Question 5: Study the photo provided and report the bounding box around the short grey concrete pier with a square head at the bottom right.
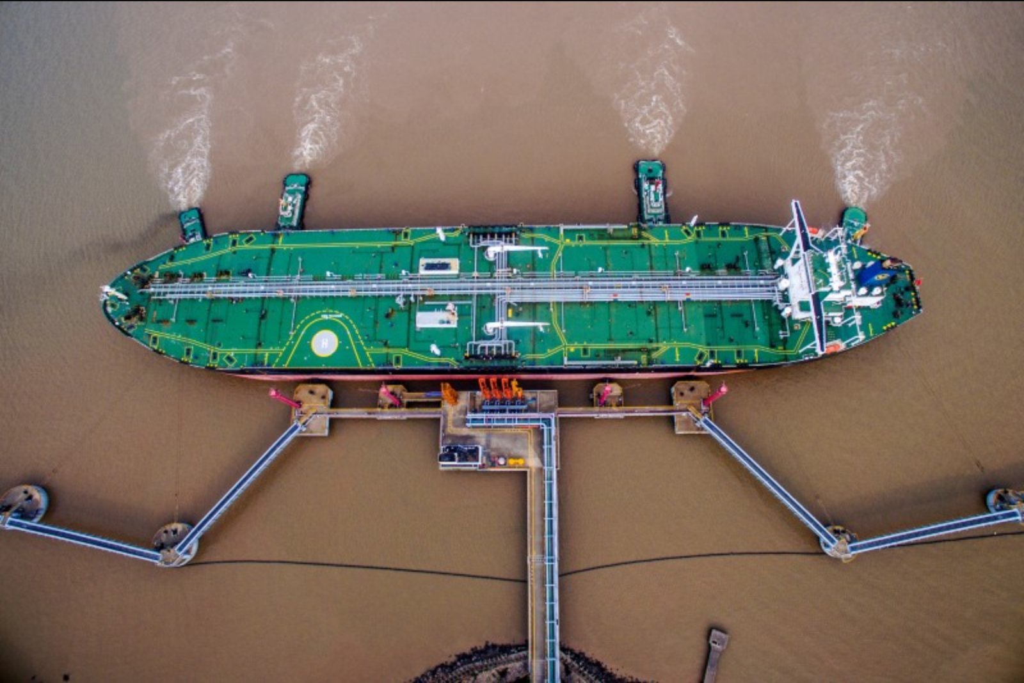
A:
[703,629,729,683]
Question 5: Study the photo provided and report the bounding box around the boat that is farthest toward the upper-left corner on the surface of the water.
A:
[179,206,211,243]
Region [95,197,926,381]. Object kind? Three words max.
ship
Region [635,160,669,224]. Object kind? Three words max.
boat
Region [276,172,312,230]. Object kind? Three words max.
boat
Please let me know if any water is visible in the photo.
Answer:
Yes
